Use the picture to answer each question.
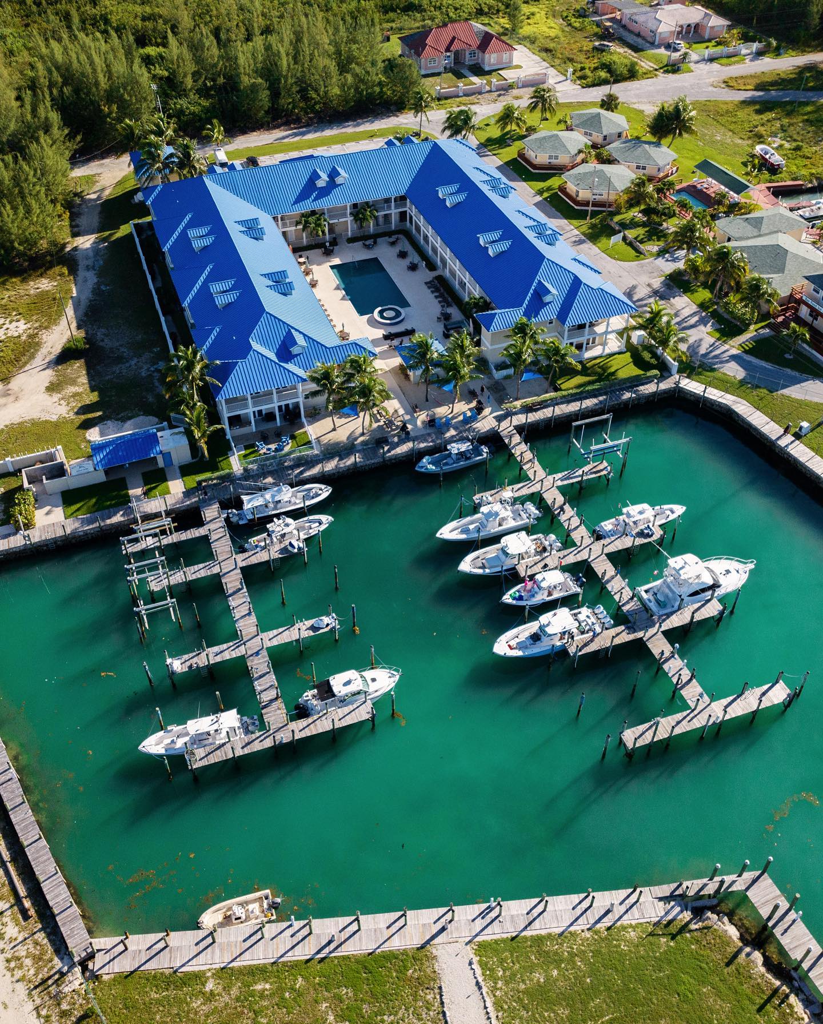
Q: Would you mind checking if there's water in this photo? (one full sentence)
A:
Yes, the picture does contain water.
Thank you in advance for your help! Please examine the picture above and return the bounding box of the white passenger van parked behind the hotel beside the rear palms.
[212,142,230,167]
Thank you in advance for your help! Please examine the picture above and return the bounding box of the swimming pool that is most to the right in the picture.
[672,190,707,208]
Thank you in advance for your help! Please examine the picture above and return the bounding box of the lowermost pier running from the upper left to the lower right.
[742,868,823,1002]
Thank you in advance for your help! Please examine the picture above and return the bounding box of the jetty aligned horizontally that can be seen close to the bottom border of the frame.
[93,870,762,975]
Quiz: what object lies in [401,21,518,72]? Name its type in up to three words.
house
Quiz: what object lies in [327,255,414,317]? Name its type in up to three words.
swimming pool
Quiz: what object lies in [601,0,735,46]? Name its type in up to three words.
house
